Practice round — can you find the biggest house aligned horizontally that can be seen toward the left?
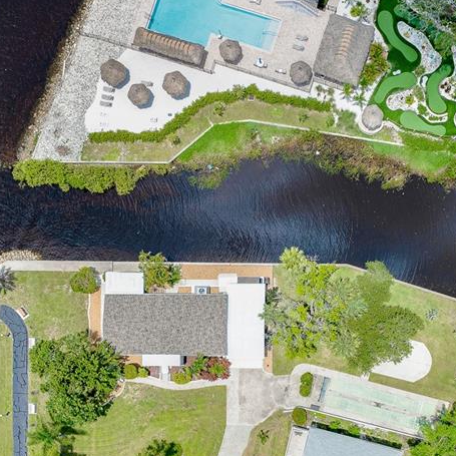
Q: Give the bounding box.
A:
[101,293,228,355]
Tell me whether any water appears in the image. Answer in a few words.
Yes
